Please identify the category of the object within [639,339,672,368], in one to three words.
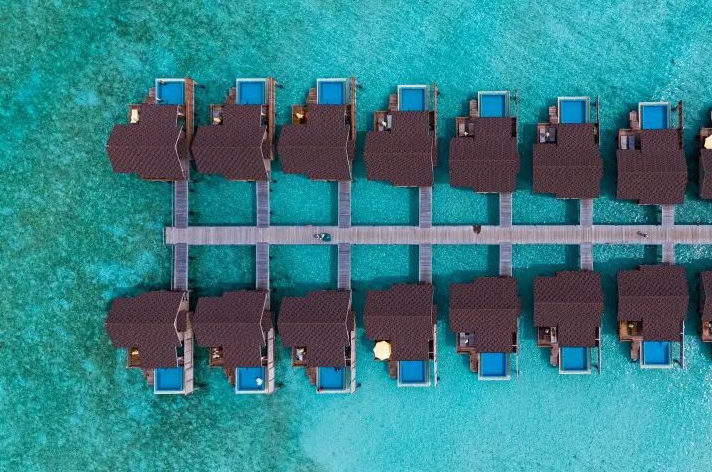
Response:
swimming pool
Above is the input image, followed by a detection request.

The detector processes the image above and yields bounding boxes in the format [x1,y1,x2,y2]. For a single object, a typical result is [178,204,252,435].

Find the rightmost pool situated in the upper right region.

[637,102,670,131]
